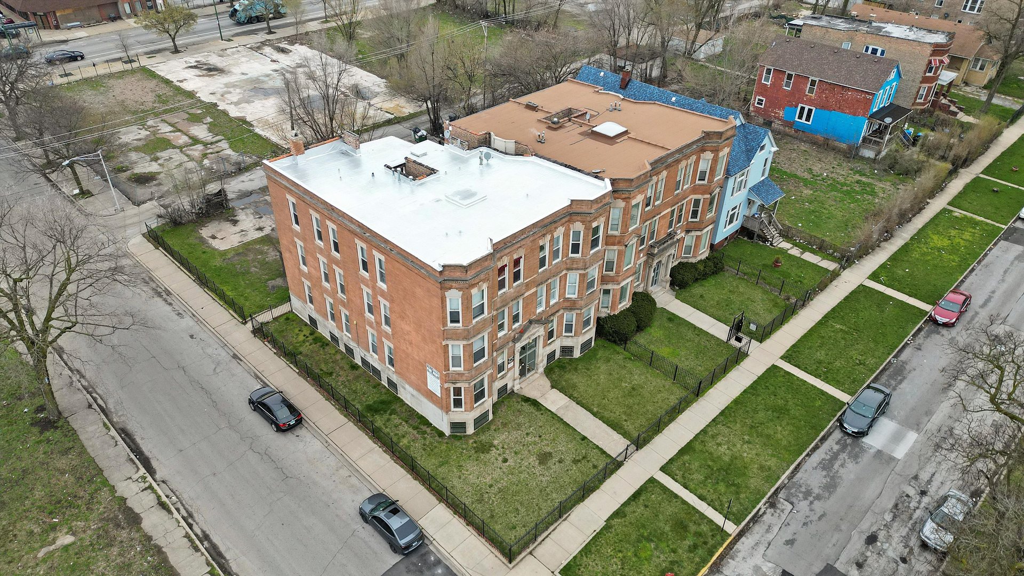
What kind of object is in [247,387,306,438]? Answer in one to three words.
car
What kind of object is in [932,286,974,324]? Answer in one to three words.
car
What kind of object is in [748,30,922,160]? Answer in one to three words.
house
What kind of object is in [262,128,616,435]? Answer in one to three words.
building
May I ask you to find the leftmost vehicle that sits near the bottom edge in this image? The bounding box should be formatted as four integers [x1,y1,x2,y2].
[355,491,429,560]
